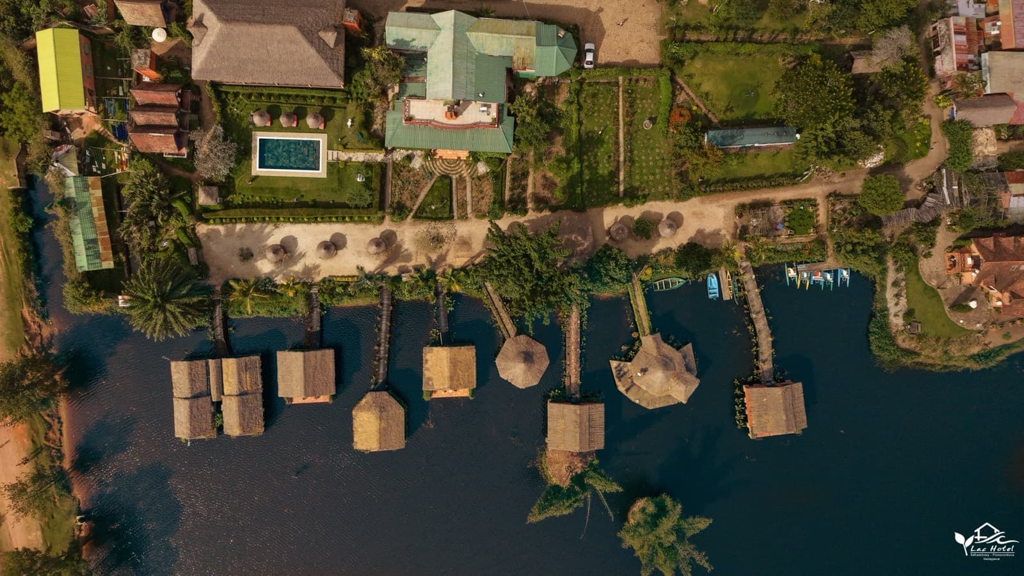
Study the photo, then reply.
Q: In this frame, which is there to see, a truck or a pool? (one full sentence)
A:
Looking from above, you can make out a pool.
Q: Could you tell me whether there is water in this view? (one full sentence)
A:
Yes, water can be seen from above here.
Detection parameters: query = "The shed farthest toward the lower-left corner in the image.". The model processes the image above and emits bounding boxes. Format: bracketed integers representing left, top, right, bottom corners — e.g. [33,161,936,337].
[170,355,270,439]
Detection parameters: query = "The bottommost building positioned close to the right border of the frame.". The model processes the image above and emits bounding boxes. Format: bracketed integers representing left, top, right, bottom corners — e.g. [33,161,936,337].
[944,232,1024,317]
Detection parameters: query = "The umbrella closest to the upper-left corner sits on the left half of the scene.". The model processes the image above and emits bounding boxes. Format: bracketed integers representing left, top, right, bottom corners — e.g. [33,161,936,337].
[252,109,271,128]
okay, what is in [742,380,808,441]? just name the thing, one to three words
shed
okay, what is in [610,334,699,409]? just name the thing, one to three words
building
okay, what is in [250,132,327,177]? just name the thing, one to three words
swimming pool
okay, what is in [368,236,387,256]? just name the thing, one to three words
umbrella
